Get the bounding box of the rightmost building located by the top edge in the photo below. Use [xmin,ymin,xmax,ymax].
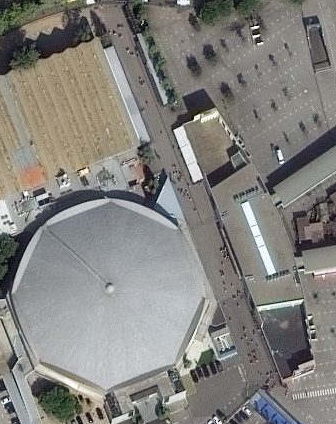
[308,21,330,74]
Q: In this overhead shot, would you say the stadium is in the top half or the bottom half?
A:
bottom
